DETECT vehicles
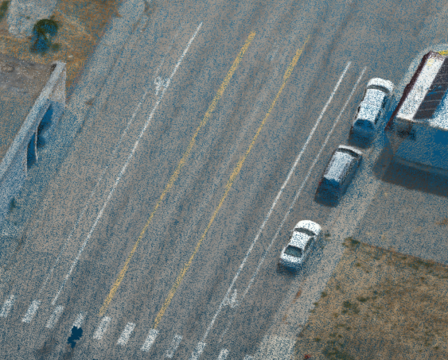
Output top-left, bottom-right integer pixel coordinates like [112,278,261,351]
[277,220,322,273]
[315,147,363,200]
[347,84,396,139]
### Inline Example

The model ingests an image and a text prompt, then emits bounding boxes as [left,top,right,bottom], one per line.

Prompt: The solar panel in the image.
[414,58,448,123]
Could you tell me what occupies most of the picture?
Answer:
paved ground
